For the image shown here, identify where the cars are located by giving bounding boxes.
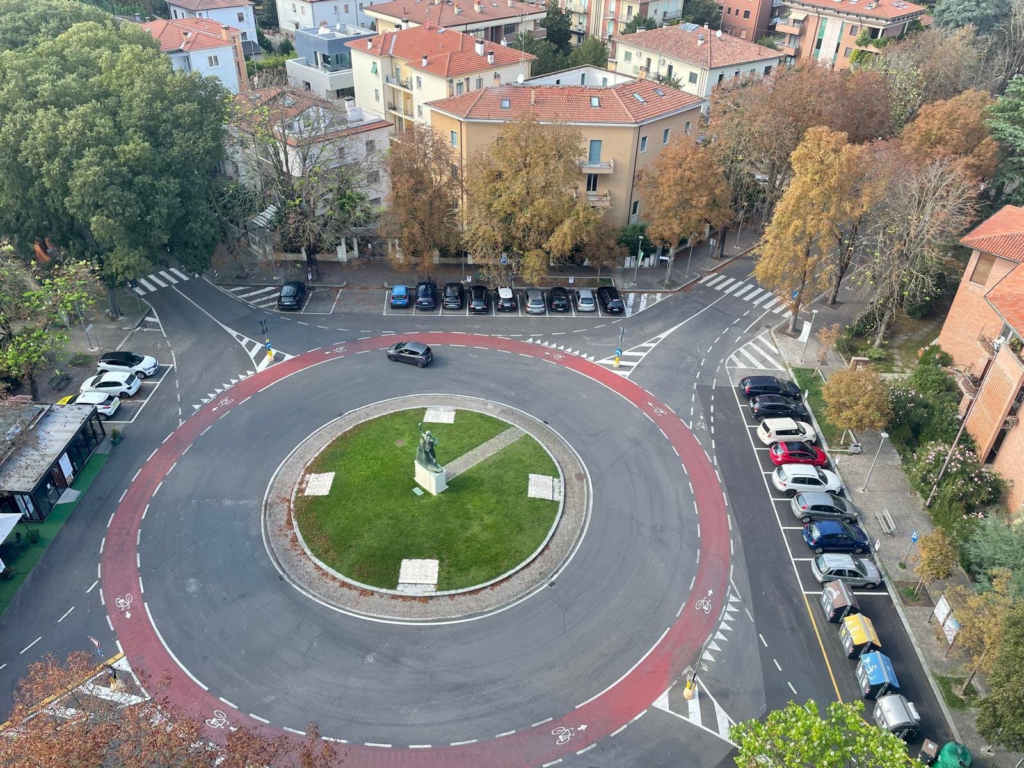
[788,490,860,524]
[81,370,144,399]
[442,279,465,306]
[755,415,821,445]
[467,282,490,309]
[764,438,830,467]
[415,279,439,307]
[494,284,517,308]
[384,340,437,368]
[771,461,847,496]
[736,370,802,398]
[62,391,121,422]
[800,519,873,555]
[93,349,158,377]
[744,391,811,421]
[593,281,624,310]
[810,552,887,590]
[279,279,312,306]
[523,286,546,311]
[549,284,571,309]
[391,282,412,307]
[573,285,596,309]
